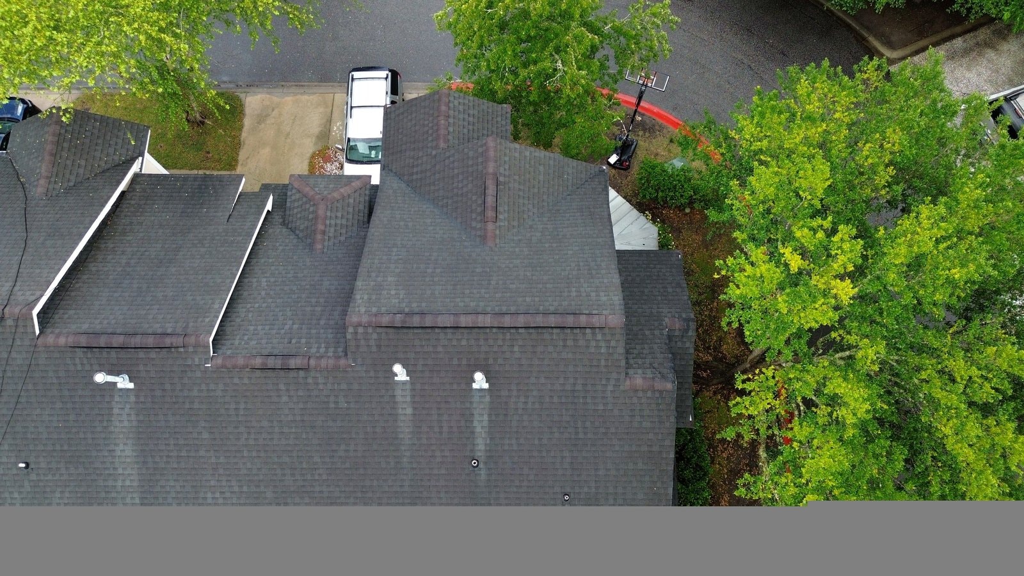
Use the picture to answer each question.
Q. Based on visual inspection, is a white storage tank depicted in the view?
No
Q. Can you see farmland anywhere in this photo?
No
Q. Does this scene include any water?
No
